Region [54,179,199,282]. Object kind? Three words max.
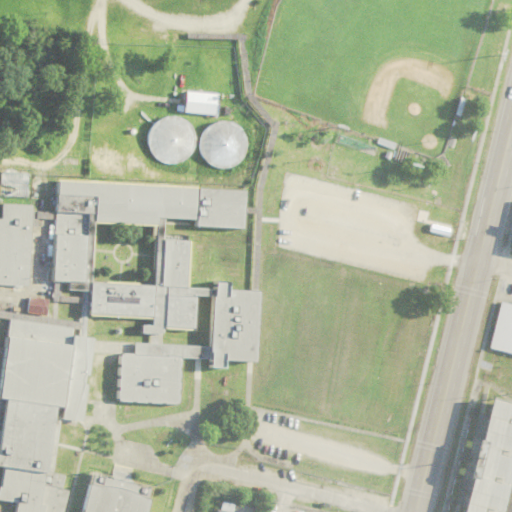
building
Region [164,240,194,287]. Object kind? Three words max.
building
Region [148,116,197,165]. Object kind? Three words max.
storage tank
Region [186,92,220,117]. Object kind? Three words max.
shed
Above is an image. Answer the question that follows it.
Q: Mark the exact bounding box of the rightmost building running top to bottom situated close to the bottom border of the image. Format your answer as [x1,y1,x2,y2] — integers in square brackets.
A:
[462,395,512,512]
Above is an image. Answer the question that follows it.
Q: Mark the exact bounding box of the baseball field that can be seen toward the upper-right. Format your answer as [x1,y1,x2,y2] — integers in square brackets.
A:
[254,0,498,156]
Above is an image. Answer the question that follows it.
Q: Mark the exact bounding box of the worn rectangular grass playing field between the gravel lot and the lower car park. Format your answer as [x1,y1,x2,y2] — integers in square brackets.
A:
[251,247,445,442]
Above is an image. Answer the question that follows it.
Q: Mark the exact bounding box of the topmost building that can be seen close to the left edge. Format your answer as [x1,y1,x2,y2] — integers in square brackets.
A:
[0,170,32,198]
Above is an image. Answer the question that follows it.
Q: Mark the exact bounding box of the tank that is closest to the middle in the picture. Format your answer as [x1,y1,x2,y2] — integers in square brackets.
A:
[199,120,248,170]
